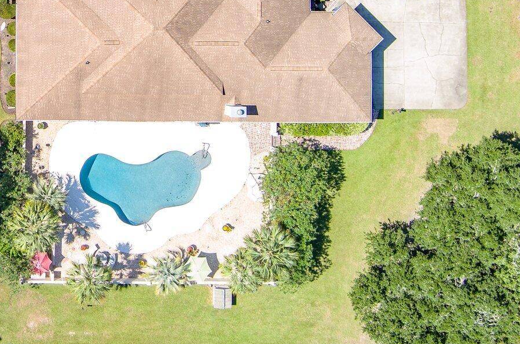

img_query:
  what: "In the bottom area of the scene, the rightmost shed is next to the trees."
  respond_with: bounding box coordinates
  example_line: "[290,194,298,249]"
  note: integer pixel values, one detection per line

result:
[210,284,232,310]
